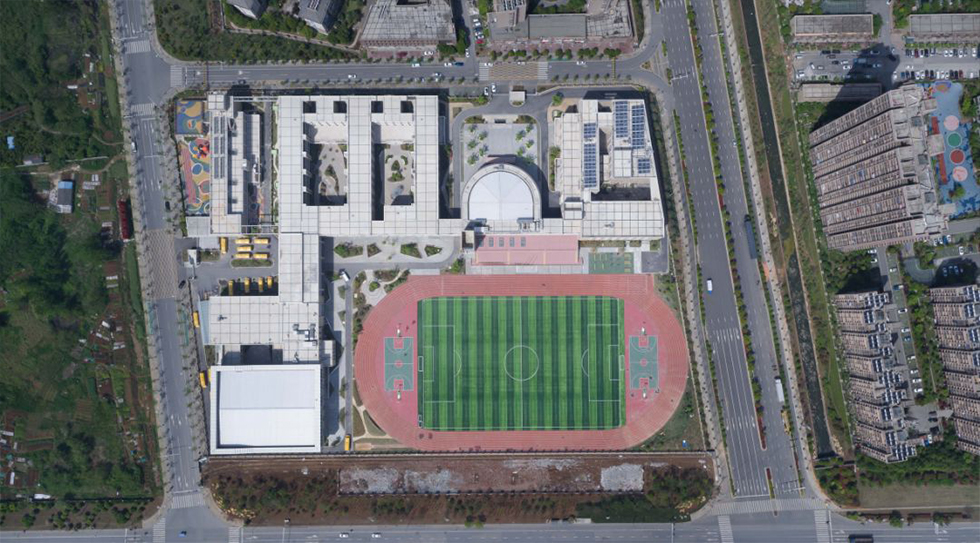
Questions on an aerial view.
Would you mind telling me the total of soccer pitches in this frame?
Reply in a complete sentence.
I count just 1 soccer pitch.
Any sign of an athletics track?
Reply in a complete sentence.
Yes, the picture does show an athletics track.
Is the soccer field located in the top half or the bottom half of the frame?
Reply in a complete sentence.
The soccer field sits in the bottom half of the picture.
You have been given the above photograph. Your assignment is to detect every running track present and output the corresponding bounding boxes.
[355,274,687,450]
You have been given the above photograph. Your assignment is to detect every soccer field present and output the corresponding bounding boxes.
[418,297,624,430]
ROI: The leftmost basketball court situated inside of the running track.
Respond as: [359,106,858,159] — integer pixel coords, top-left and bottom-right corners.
[384,337,413,392]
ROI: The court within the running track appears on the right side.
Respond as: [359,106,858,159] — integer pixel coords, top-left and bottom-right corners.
[630,336,657,389]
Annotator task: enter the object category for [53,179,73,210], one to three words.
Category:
shed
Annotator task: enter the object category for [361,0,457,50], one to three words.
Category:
building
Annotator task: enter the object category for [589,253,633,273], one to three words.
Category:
sports court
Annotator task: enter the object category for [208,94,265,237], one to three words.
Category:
building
